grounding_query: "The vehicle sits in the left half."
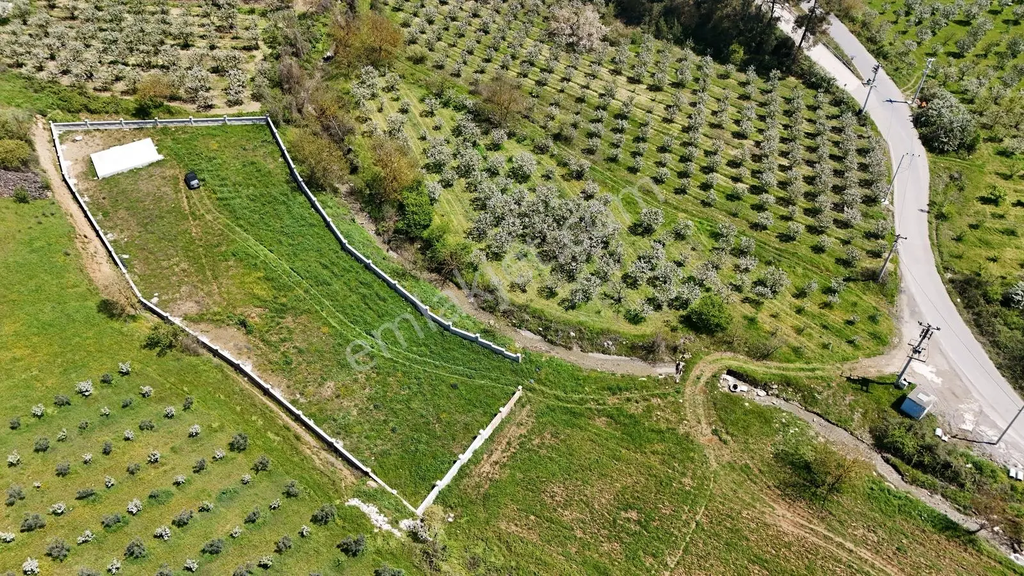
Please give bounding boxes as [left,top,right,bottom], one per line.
[184,172,200,189]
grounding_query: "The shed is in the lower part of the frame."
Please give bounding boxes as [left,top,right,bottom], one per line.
[900,387,937,422]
